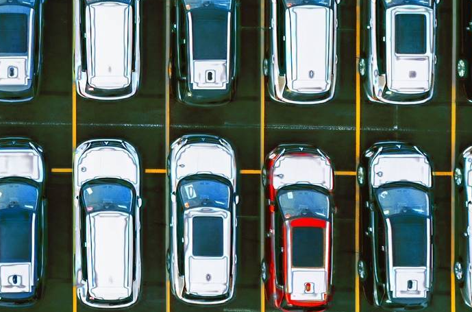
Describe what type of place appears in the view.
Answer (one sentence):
What you see here is a parking lot.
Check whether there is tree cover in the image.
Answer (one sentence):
No, there's no tree cover in this view.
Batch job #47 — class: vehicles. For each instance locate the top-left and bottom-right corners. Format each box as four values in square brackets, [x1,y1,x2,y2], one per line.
[73,140,142,307]
[167,136,240,302]
[359,143,437,309]
[169,0,241,107]
[0,0,46,104]
[264,0,337,104]
[263,145,338,311]
[362,0,436,104]
[73,0,140,101]
[0,138,48,304]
